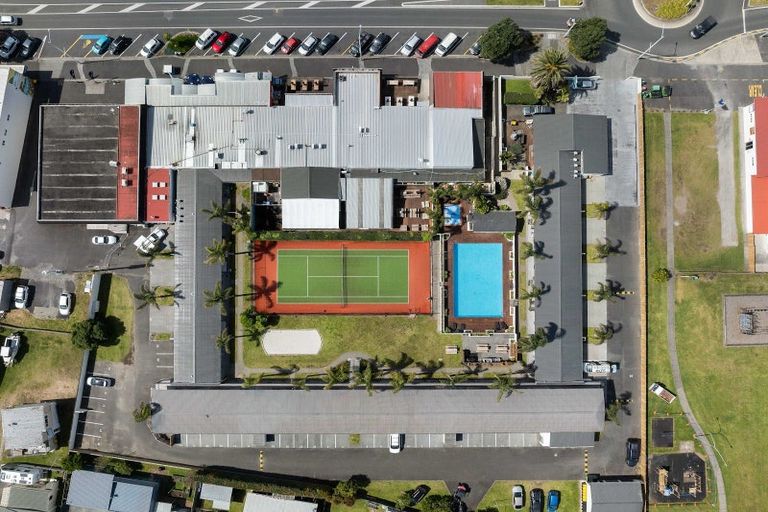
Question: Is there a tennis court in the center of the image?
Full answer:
Yes, a tennis court appears in the center of the image.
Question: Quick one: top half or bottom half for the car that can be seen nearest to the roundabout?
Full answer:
Seen from above, the car that can be seen nearest to the roundabout lies in the top half of the view.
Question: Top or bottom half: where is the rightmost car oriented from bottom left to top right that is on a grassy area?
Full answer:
The bottom half of the photo is where the rightmost car oriented from bottom left to top right that is on a grassy area is.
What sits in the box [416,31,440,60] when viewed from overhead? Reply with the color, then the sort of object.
red vehicle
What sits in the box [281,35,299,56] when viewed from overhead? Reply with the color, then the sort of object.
red car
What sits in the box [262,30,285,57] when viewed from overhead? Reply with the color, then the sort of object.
white car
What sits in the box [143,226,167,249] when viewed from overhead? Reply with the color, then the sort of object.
white vehicle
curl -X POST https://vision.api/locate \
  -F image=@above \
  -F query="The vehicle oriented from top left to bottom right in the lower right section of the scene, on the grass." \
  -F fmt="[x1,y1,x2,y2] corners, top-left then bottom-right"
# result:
[646,381,679,406]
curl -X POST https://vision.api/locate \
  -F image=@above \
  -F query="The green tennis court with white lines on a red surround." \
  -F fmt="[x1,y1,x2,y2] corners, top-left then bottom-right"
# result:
[254,241,430,314]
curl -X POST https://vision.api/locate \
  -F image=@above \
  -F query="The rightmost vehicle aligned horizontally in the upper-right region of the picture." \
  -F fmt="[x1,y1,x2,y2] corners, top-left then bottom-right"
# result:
[645,84,676,98]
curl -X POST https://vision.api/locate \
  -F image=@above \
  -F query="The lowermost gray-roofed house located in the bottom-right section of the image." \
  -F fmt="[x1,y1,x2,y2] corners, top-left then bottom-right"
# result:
[583,475,646,512]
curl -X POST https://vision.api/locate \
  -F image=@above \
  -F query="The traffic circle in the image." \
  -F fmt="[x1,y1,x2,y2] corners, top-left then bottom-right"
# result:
[633,0,703,28]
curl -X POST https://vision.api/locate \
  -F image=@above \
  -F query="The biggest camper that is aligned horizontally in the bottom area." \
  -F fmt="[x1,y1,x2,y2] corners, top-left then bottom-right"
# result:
[1,463,46,483]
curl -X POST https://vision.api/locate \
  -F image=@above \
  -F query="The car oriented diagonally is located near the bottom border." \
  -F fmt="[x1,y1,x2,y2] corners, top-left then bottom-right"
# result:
[407,481,429,507]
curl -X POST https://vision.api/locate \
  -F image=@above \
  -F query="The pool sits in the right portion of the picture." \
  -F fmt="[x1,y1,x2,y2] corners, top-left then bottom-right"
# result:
[442,232,515,333]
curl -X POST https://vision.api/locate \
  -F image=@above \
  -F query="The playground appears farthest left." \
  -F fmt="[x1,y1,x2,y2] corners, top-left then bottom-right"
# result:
[650,453,706,504]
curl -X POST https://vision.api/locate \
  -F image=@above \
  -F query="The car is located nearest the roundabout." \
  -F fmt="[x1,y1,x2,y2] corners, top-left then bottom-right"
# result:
[688,14,719,40]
